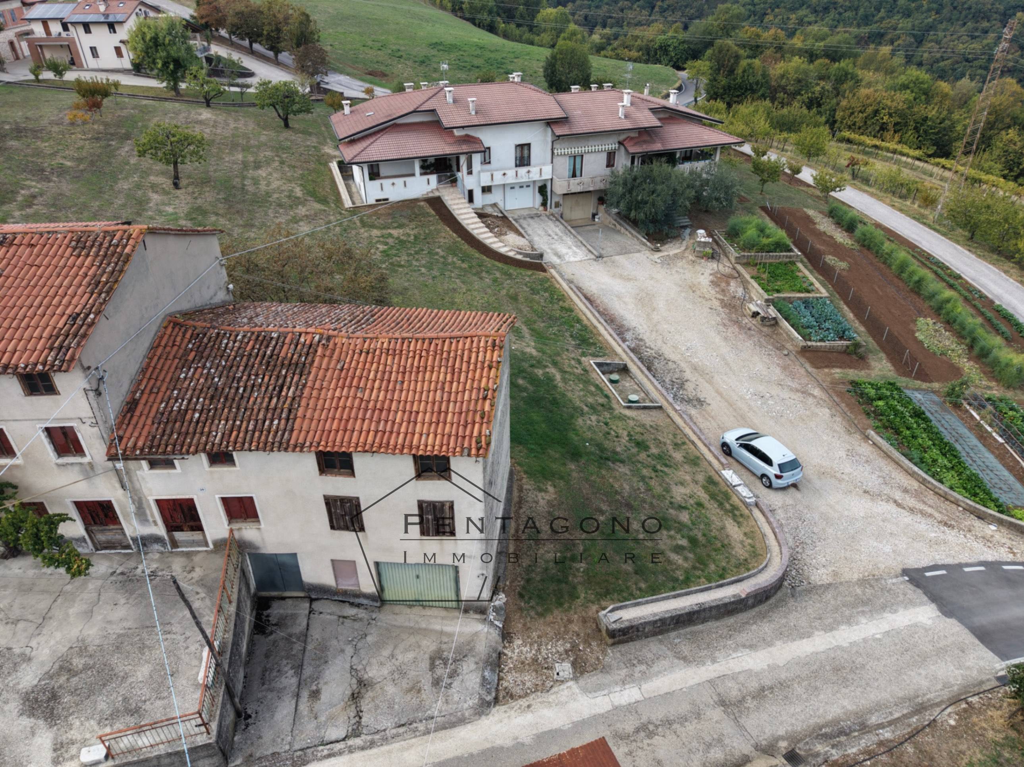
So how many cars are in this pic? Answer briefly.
1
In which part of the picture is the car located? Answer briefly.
right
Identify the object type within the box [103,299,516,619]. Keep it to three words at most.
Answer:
house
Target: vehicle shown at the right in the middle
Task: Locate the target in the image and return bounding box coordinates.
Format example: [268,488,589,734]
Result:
[722,425,806,491]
